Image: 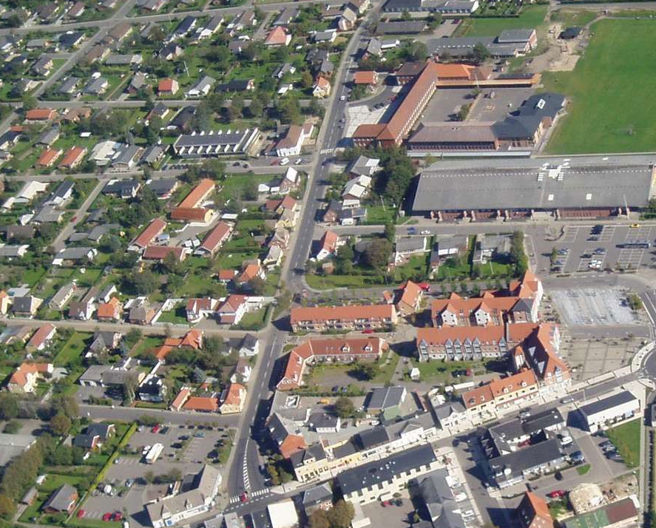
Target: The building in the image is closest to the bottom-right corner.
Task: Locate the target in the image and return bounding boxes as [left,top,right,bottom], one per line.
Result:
[605,497,639,528]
